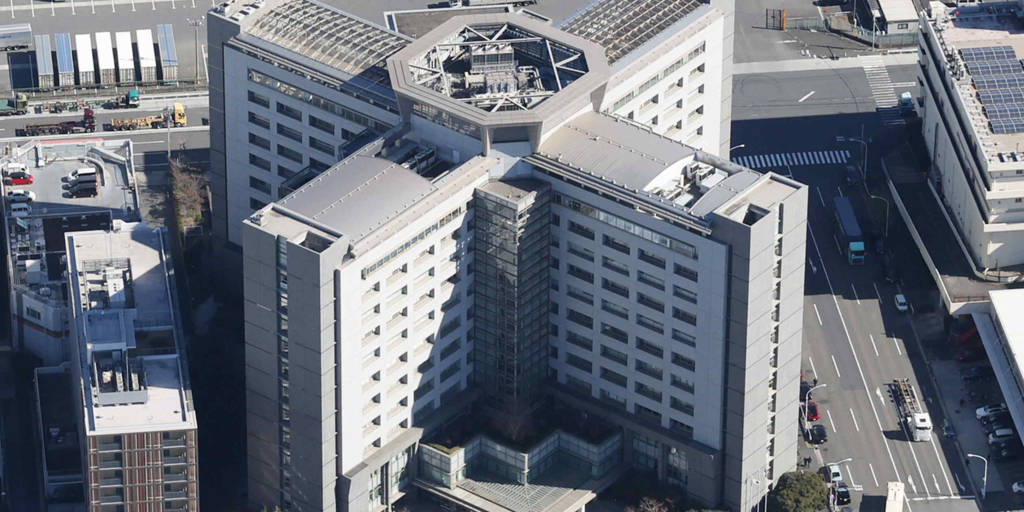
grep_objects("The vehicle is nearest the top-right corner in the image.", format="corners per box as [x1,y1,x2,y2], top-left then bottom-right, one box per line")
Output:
[898,95,912,116]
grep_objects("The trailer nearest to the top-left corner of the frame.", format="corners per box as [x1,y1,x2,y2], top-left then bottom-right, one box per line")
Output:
[0,22,31,49]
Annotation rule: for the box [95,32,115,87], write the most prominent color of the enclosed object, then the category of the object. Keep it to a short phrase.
white trailer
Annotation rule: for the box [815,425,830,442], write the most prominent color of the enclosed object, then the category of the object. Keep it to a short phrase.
black car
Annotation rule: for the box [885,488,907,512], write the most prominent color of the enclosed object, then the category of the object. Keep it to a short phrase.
white truck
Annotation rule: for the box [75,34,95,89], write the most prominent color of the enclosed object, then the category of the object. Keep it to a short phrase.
white trailer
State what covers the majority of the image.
buildings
